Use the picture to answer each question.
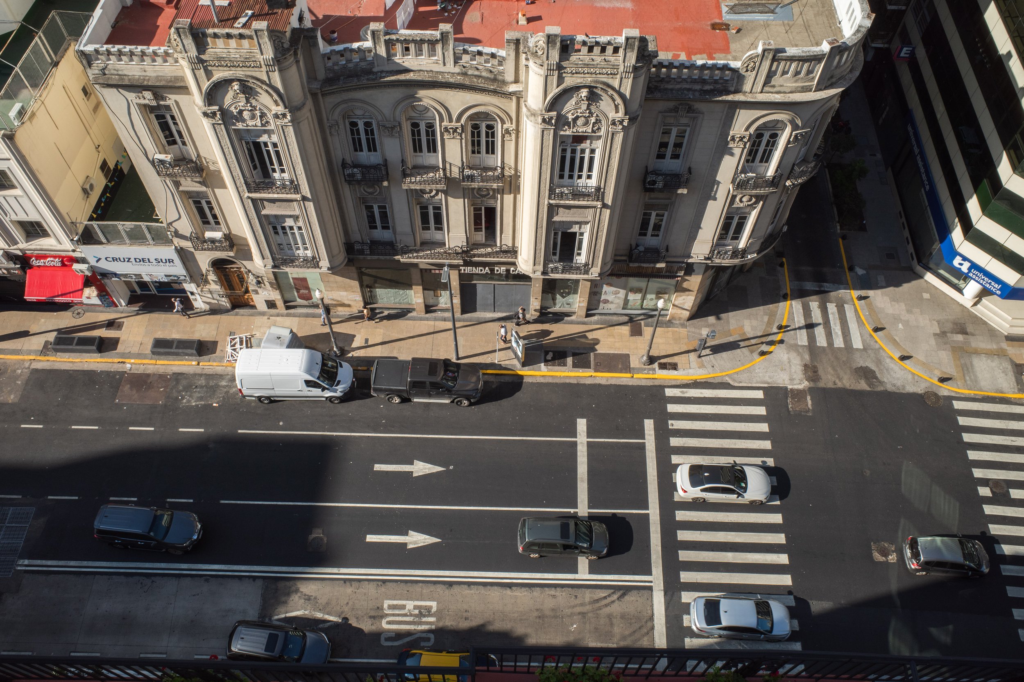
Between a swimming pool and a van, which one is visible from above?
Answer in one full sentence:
Looking from above, you can make out a van.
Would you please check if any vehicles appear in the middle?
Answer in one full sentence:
Yes, a vehicle can be seen in the middle.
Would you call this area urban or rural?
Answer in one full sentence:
From above, the setting appears urban.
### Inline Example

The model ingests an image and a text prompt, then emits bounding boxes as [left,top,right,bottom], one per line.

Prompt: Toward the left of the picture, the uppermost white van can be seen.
[232,348,357,403]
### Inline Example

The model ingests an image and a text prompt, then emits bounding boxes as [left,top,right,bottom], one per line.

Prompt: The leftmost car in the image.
[90,506,206,556]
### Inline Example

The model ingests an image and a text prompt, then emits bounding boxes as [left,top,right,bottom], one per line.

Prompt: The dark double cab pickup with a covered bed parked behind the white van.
[371,354,485,404]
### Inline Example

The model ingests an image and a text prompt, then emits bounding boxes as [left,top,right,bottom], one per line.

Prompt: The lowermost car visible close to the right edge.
[898,535,991,581]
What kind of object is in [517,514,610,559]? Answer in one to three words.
car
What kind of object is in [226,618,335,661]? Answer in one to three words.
car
